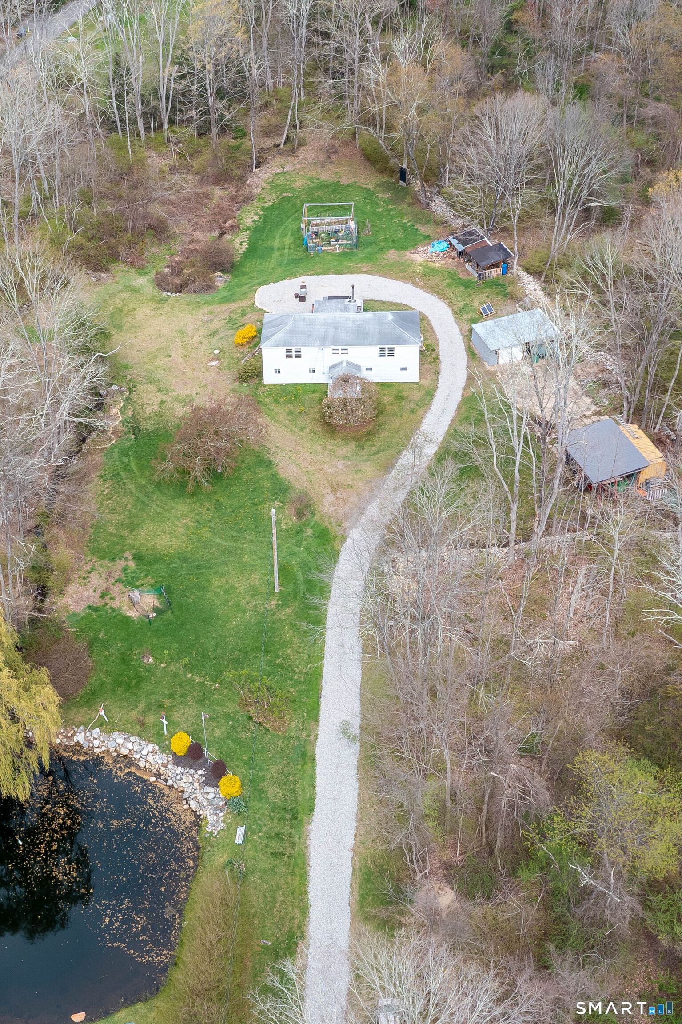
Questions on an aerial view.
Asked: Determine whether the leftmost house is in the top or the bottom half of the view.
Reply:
top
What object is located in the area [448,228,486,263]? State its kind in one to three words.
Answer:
shed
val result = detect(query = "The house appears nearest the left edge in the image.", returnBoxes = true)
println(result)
[259,284,424,398]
